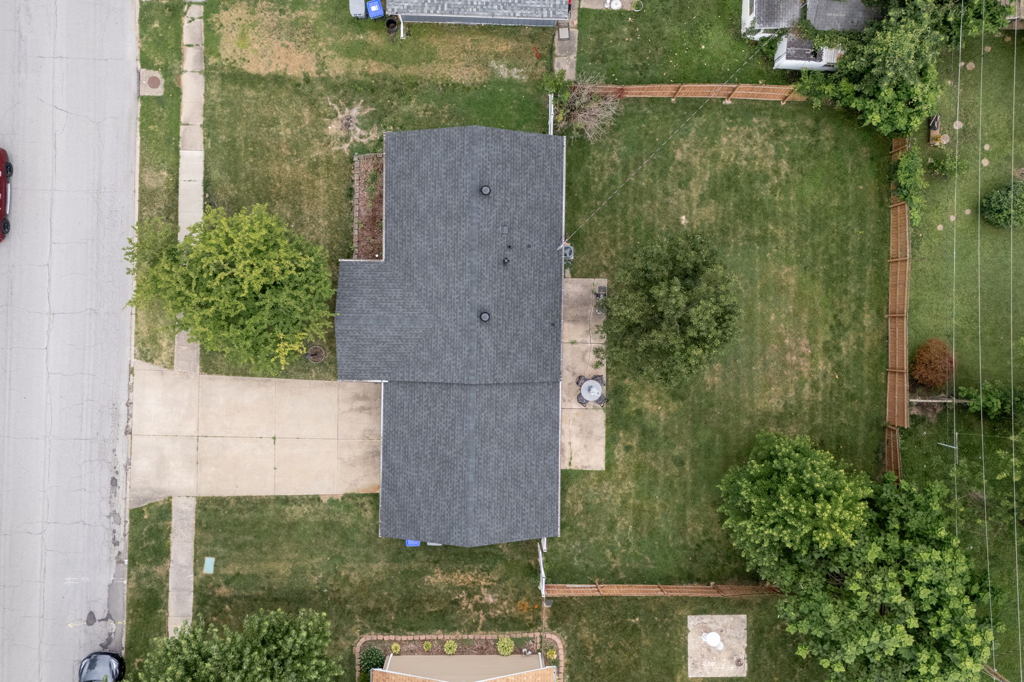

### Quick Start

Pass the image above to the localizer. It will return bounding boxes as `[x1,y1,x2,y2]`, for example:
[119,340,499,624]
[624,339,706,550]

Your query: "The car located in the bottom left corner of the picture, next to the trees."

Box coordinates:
[79,653,125,682]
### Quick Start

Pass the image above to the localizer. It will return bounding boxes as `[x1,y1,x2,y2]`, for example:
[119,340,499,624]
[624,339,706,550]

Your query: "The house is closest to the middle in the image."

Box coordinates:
[335,125,567,547]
